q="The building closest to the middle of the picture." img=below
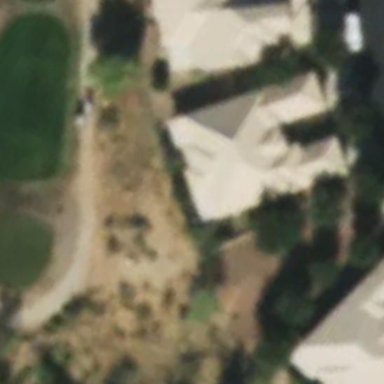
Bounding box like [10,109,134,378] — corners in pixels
[167,74,349,224]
